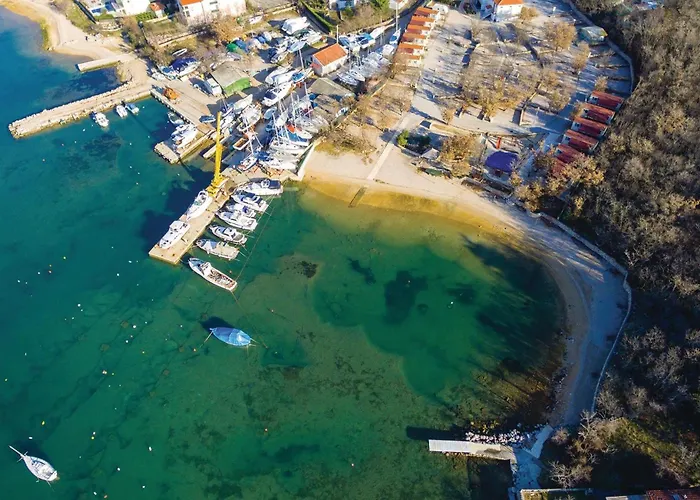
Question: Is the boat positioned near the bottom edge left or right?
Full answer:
You can find the boat positioned near the bottom edge on the left side of the picture.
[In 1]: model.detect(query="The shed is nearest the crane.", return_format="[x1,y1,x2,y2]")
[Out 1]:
[211,62,251,97]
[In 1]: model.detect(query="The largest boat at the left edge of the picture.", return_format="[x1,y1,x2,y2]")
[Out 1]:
[14,450,65,484]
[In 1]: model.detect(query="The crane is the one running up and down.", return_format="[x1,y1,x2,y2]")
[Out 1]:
[199,107,232,200]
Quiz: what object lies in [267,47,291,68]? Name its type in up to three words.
boat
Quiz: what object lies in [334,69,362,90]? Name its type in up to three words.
boat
